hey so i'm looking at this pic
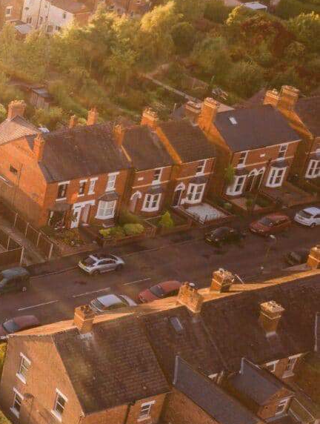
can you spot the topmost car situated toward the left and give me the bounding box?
[75,252,125,279]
